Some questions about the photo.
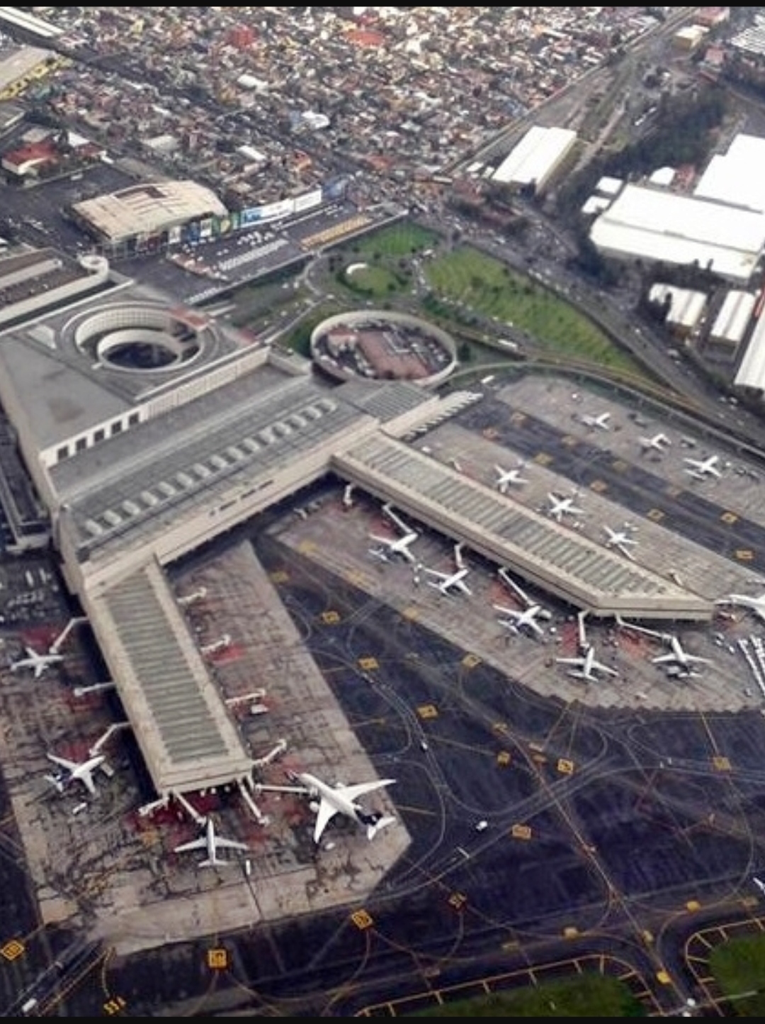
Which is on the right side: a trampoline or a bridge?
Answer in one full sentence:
The feature located on the right side is a bridge.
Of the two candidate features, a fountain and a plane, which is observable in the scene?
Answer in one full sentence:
There is a plane in the scene.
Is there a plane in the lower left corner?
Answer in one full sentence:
Yes, looking in the lower left corner, one can make out a plane.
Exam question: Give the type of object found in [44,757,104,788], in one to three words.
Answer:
airplane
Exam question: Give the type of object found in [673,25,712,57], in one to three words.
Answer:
building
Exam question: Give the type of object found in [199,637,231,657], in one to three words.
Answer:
jet bridge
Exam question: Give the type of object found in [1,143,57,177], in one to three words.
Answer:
house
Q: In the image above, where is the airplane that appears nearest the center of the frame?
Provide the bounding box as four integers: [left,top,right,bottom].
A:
[369,536,417,561]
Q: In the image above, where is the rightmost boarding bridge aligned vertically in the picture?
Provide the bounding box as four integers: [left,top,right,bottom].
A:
[577,608,590,652]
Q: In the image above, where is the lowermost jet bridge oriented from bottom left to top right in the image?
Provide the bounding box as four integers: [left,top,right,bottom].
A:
[137,787,172,821]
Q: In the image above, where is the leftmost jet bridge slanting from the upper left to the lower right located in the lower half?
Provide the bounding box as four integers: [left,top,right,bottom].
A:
[172,786,209,827]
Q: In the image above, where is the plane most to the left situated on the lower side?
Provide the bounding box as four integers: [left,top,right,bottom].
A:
[9,653,64,679]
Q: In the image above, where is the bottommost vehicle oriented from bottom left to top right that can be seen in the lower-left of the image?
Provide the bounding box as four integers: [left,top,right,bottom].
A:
[18,991,39,1013]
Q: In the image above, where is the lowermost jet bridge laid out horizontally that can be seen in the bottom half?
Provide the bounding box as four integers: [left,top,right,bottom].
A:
[244,771,314,801]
